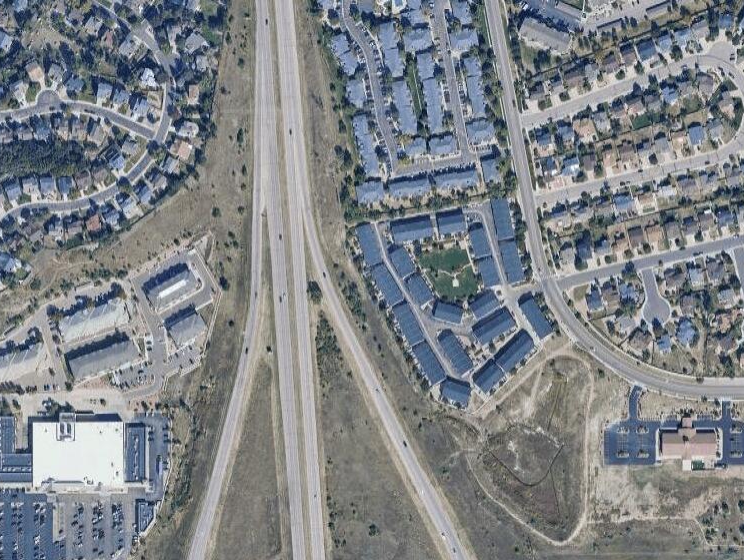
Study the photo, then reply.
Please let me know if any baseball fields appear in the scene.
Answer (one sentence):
No, no baseball field is visible in the view.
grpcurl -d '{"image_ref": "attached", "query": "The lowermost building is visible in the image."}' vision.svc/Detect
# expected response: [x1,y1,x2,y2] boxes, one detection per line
[139,502,154,533]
